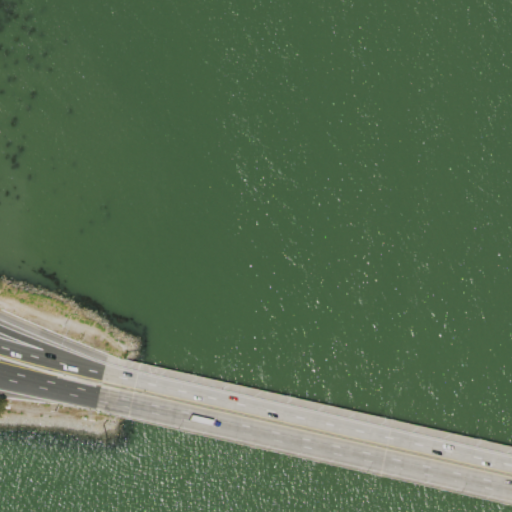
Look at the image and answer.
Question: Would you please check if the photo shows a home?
No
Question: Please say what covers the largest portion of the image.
water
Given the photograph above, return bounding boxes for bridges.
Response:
[95,354,512,506]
